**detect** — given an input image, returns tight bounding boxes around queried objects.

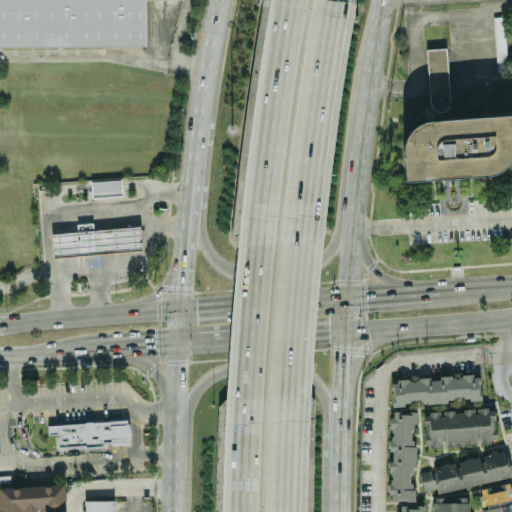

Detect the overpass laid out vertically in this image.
[226,215,327,424]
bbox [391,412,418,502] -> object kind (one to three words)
building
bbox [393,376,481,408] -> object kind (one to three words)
building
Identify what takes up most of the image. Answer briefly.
paved ground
